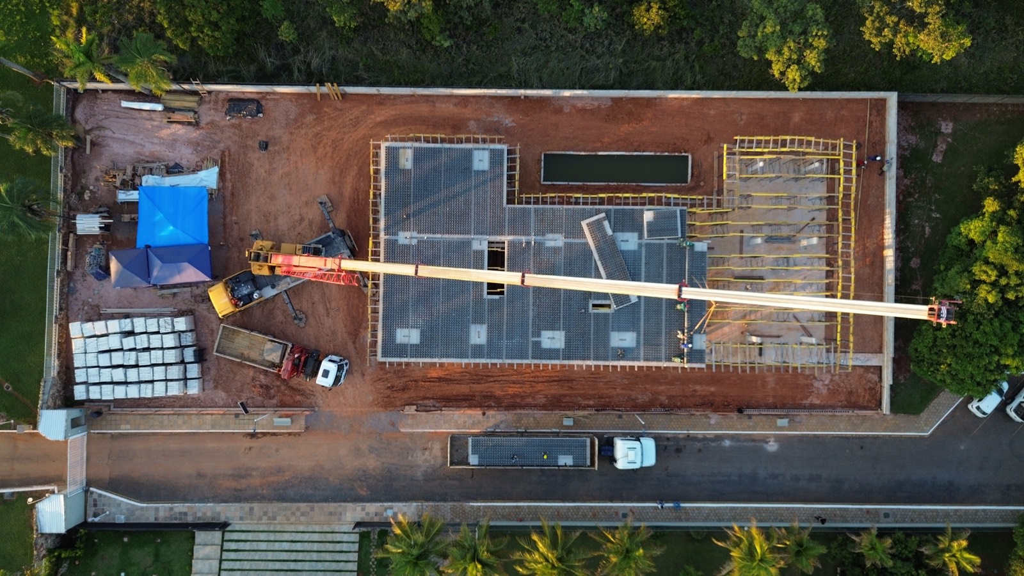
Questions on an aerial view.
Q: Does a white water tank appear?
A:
No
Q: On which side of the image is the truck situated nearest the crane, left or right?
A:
left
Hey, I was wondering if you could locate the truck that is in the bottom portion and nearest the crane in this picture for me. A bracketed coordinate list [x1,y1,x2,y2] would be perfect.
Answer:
[213,322,355,395]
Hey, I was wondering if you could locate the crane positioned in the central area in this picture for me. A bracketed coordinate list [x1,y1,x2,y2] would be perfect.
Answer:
[204,203,973,331]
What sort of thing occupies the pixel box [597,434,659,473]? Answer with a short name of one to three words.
truck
